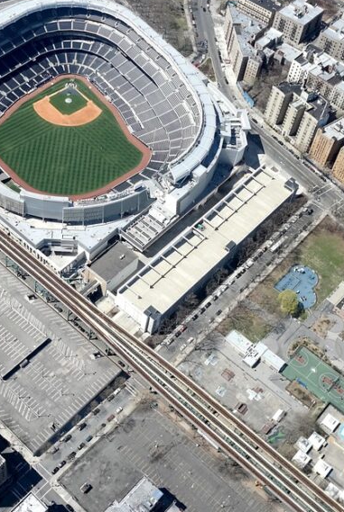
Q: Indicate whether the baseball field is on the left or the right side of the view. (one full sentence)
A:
The baseball field appears in the left half of the scene.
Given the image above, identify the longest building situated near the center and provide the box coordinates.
[116,163,298,334]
